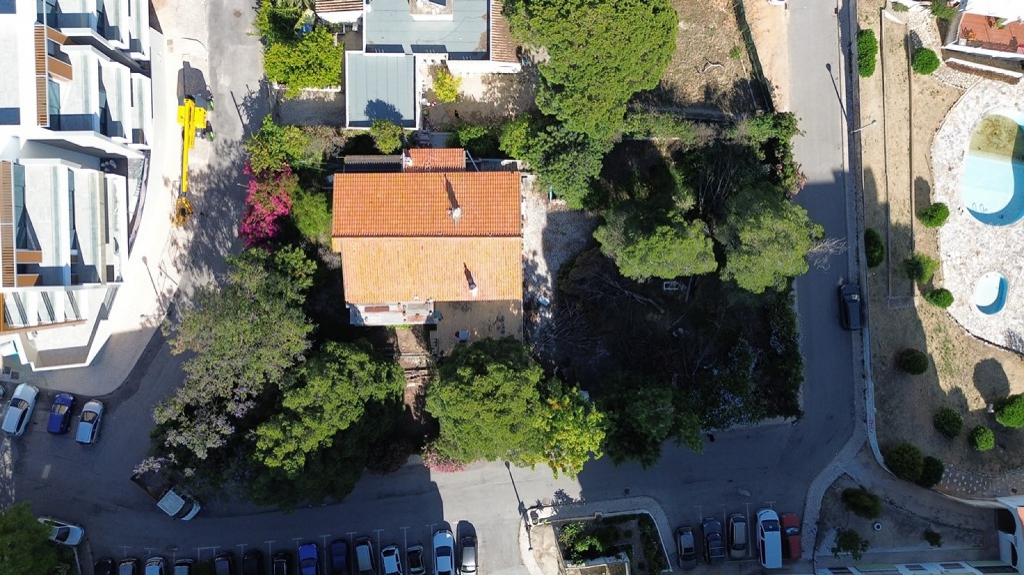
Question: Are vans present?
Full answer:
Yes, this view includes a van.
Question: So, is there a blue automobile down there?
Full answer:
Yes, you can see a blue automobile in this photo.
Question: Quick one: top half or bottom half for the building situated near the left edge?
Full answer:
Seen from above, the building situated near the left edge lies in the top half of the view.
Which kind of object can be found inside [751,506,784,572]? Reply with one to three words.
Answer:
van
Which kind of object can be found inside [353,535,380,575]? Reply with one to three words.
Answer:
car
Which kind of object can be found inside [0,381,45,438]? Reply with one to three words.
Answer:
car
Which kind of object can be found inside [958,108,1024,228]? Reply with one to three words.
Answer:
swimming pool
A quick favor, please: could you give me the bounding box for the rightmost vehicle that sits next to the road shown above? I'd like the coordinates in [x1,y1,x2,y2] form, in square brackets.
[835,283,865,331]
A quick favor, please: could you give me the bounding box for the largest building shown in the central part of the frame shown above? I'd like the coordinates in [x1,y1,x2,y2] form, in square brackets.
[331,170,523,303]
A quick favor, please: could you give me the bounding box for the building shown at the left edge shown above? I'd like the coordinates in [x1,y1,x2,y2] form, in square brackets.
[0,0,163,371]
